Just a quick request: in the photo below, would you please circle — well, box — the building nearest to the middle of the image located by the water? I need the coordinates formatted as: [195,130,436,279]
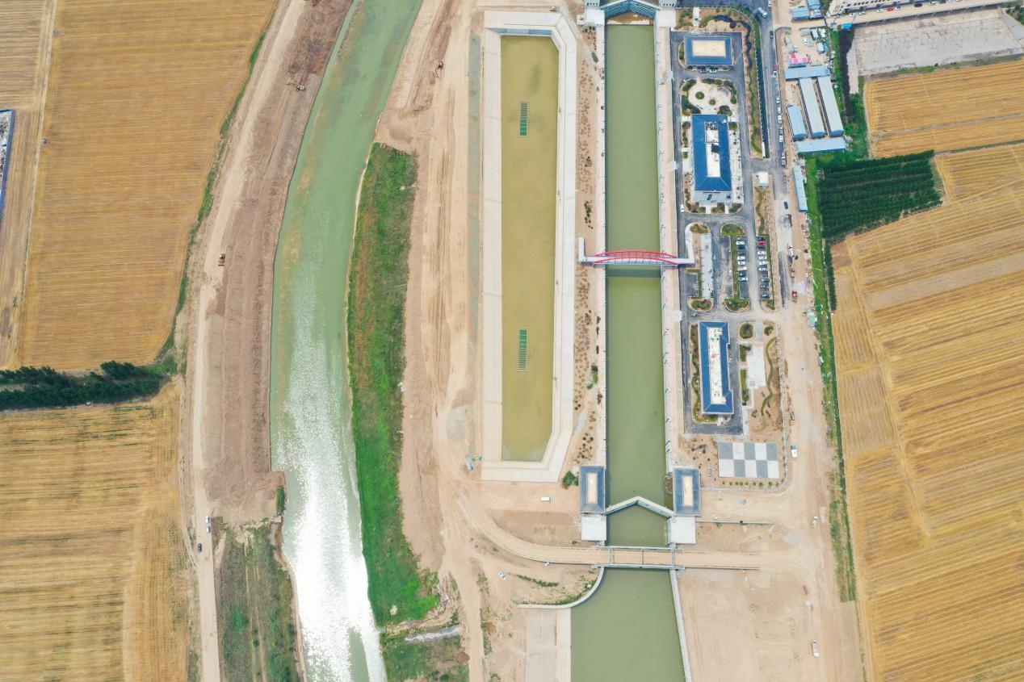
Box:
[579,466,606,513]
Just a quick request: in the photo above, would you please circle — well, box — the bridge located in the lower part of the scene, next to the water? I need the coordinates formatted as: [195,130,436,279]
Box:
[593,546,685,570]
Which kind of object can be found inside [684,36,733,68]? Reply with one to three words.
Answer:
building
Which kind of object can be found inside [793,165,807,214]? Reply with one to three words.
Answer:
shed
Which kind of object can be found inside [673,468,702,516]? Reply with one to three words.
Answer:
building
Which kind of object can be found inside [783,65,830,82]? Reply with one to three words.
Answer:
shed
